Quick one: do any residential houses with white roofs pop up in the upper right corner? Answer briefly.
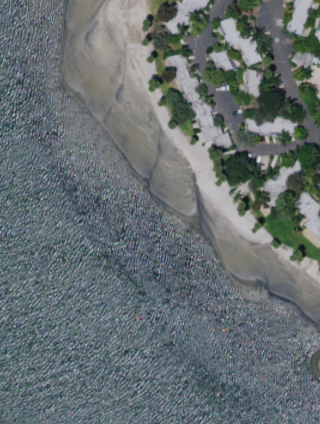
Yes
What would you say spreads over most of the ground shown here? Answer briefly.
water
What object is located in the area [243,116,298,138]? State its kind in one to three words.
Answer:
house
